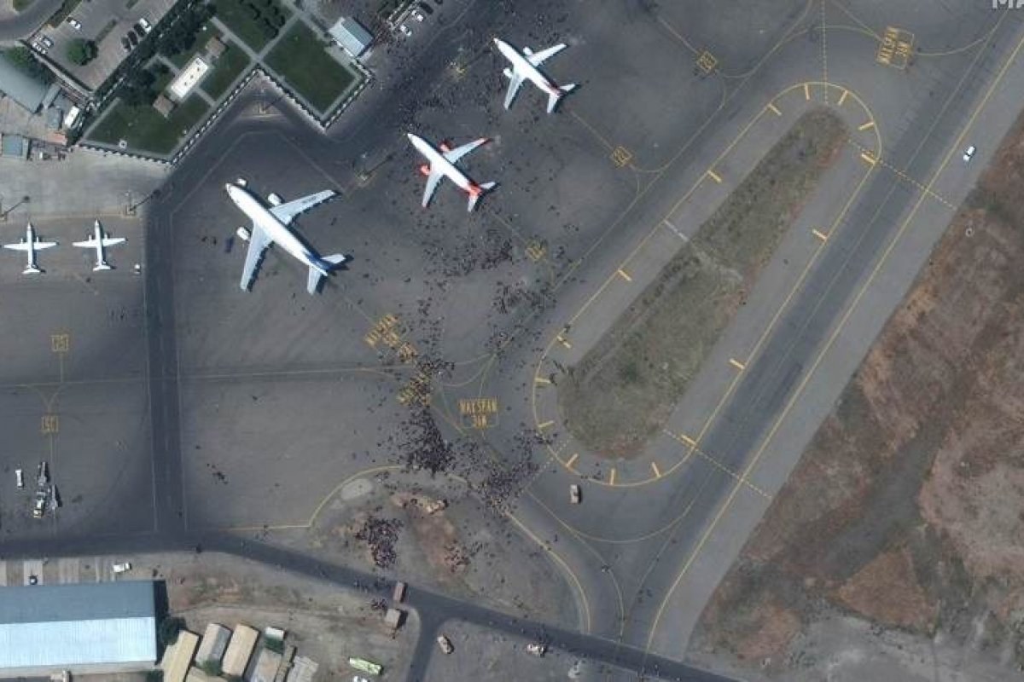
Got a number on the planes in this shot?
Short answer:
5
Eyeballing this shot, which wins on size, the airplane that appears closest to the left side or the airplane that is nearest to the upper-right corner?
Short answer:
the airplane that is nearest to the upper-right corner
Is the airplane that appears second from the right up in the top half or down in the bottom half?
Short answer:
top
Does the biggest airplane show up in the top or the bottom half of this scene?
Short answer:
top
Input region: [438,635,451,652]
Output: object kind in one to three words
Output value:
vehicle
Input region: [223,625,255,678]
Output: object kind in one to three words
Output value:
shed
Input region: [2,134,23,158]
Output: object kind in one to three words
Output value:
building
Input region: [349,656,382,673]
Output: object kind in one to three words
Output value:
vehicle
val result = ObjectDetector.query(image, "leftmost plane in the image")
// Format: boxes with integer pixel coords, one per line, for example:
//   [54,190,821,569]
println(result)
[4,222,56,272]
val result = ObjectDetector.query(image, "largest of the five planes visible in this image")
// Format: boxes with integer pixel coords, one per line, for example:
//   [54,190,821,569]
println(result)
[226,184,346,293]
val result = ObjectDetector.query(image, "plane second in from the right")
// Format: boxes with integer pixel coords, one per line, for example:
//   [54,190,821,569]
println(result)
[408,134,496,210]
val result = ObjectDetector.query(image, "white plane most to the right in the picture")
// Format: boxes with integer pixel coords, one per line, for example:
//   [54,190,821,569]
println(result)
[494,38,576,112]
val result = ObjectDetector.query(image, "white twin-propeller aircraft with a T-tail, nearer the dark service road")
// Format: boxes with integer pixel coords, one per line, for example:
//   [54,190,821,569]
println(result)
[72,220,125,269]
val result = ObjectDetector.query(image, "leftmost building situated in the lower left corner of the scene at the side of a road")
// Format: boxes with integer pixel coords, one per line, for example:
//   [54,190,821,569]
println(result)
[0,581,157,682]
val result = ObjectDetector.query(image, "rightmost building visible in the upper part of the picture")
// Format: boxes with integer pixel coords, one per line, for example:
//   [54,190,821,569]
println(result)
[330,15,373,60]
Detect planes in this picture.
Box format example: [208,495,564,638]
[226,184,346,293]
[494,38,576,112]
[408,134,496,210]
[72,220,125,269]
[4,222,56,272]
